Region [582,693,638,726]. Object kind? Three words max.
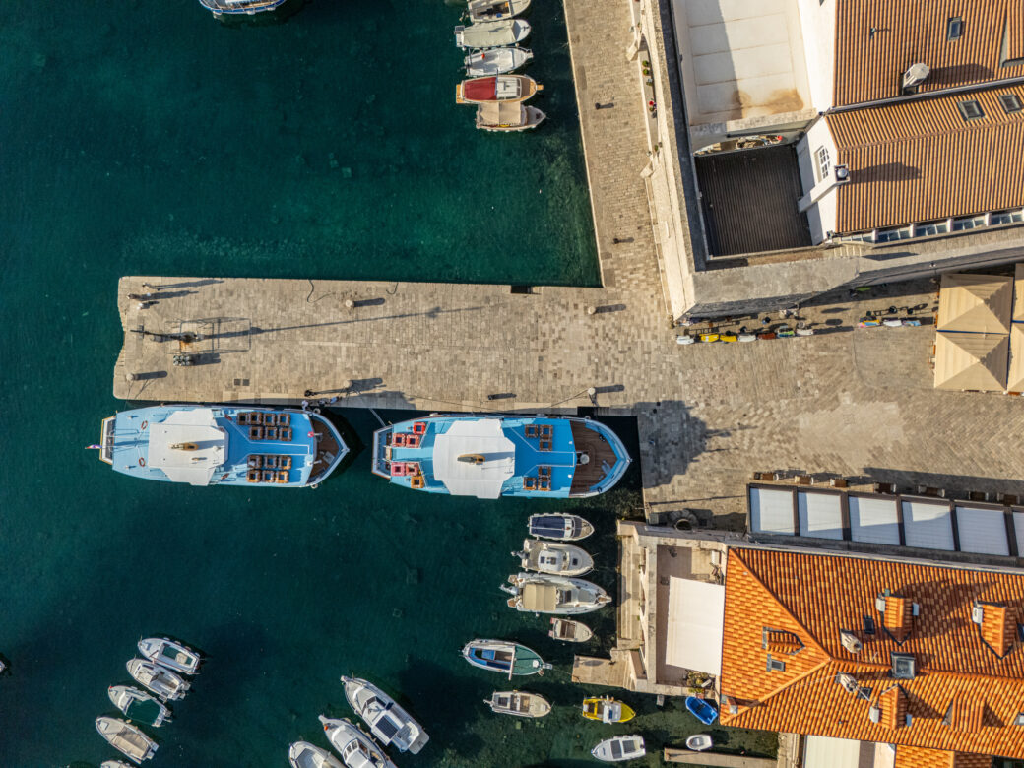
boat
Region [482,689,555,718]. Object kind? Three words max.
boat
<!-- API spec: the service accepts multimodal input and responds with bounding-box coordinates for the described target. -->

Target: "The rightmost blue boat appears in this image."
[688,697,718,726]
